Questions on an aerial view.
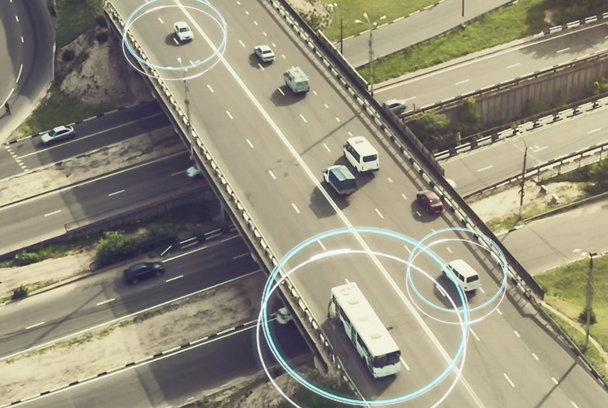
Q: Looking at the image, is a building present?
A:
No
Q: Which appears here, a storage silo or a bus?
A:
bus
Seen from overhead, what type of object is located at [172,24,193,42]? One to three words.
car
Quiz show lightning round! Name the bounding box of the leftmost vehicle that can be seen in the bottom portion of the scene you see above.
[122,261,166,285]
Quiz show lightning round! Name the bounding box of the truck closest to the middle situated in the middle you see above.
[323,165,359,197]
